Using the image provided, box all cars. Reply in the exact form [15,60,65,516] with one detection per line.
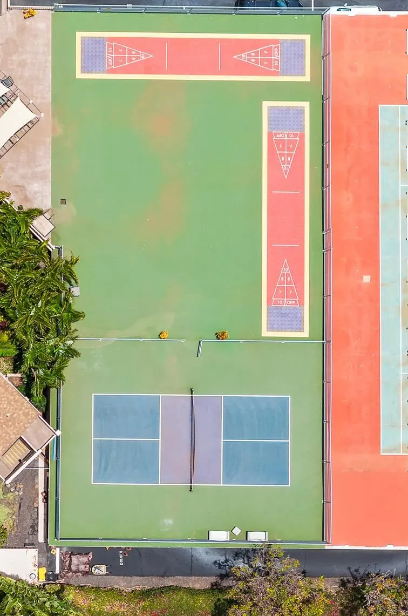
[332,1,383,12]
[233,0,302,9]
